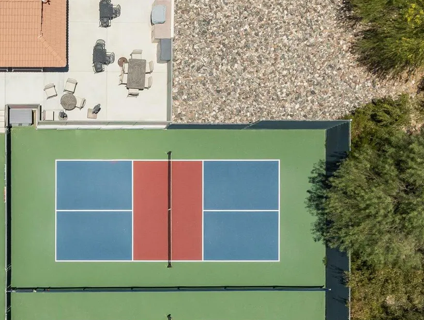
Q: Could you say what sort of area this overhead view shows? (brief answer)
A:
sports ground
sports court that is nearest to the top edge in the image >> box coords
[9,127,325,290]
